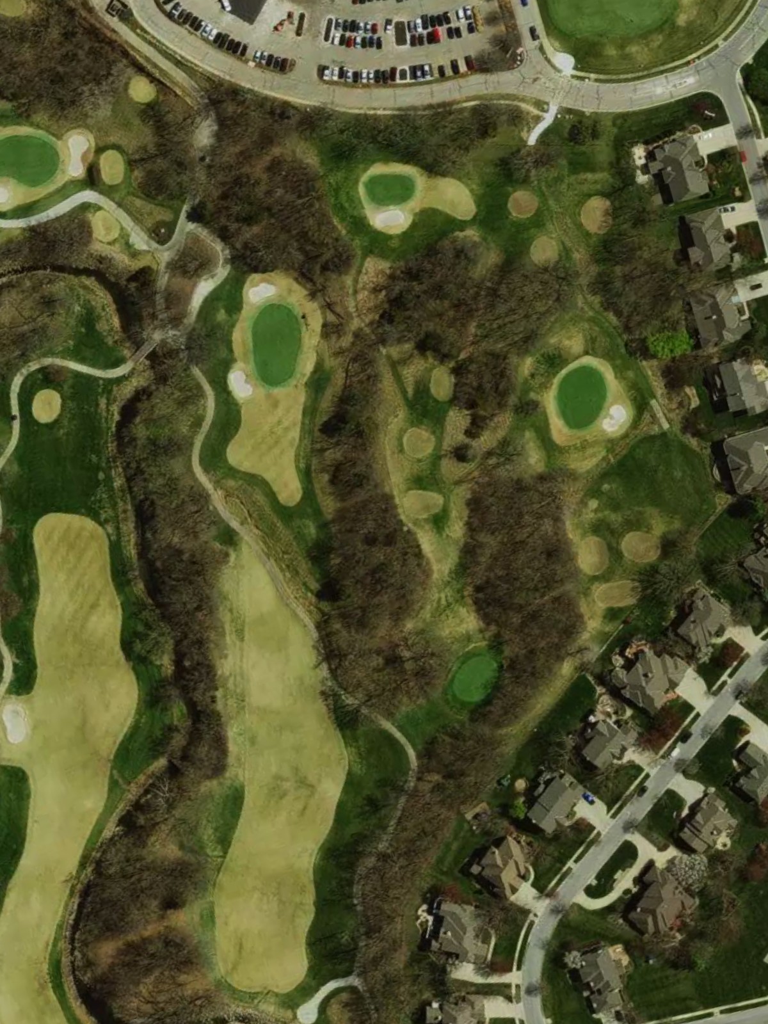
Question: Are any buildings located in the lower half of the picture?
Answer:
Yes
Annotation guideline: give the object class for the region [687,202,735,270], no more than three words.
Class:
house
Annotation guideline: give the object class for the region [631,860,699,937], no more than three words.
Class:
house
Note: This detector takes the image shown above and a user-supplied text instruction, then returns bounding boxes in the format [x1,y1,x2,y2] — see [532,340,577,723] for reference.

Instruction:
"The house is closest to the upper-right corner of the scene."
[647,130,717,203]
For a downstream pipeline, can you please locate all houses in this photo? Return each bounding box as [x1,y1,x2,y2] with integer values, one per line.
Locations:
[619,649,698,716]
[478,833,529,901]
[737,739,768,807]
[430,894,493,967]
[678,787,742,853]
[680,588,733,651]
[526,767,590,833]
[631,860,699,937]
[647,130,717,203]
[685,278,755,350]
[721,428,768,495]
[719,360,768,419]
[580,947,625,1021]
[424,989,489,1024]
[581,718,642,770]
[687,202,735,270]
